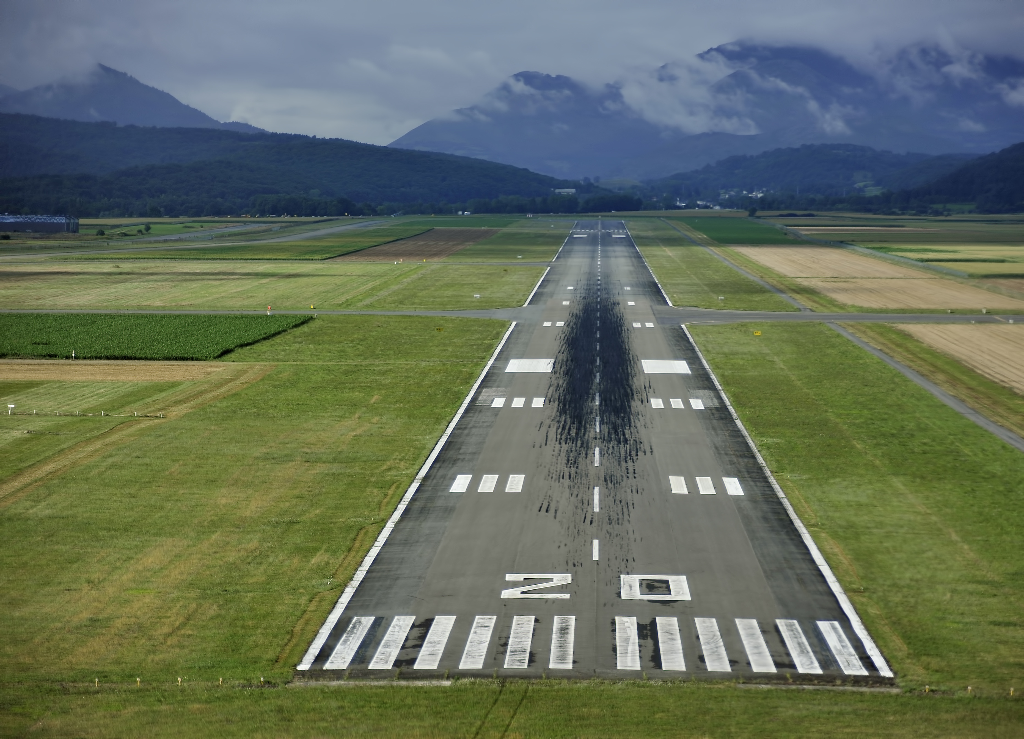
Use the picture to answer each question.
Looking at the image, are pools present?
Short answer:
No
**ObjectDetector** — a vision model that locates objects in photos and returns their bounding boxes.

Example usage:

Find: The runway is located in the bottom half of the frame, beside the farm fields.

[285,220,905,691]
